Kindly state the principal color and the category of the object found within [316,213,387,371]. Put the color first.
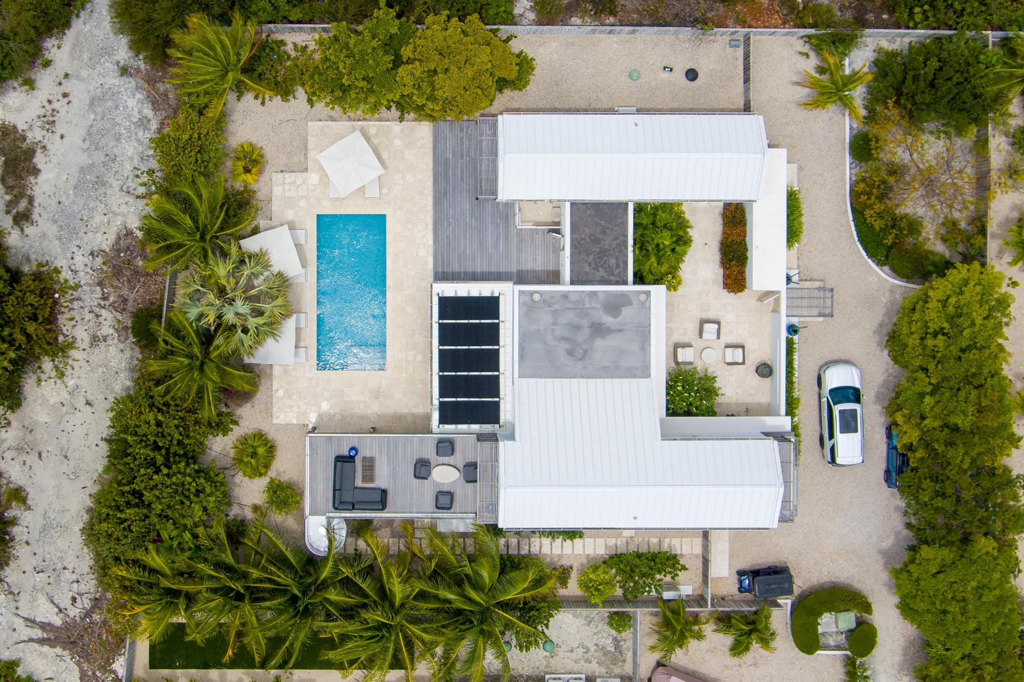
blue swimming pool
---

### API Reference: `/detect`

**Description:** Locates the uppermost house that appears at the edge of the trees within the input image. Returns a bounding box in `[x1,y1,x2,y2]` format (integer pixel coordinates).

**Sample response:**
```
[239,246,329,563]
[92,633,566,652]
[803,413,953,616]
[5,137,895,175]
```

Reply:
[304,106,799,559]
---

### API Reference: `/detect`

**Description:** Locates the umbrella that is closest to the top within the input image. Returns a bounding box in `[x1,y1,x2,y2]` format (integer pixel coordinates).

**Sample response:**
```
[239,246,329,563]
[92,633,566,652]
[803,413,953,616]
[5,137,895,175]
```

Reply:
[317,130,385,197]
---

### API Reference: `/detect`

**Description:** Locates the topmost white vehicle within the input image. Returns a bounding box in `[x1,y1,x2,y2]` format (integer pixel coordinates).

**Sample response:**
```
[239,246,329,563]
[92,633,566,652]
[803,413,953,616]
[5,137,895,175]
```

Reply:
[817,363,868,466]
